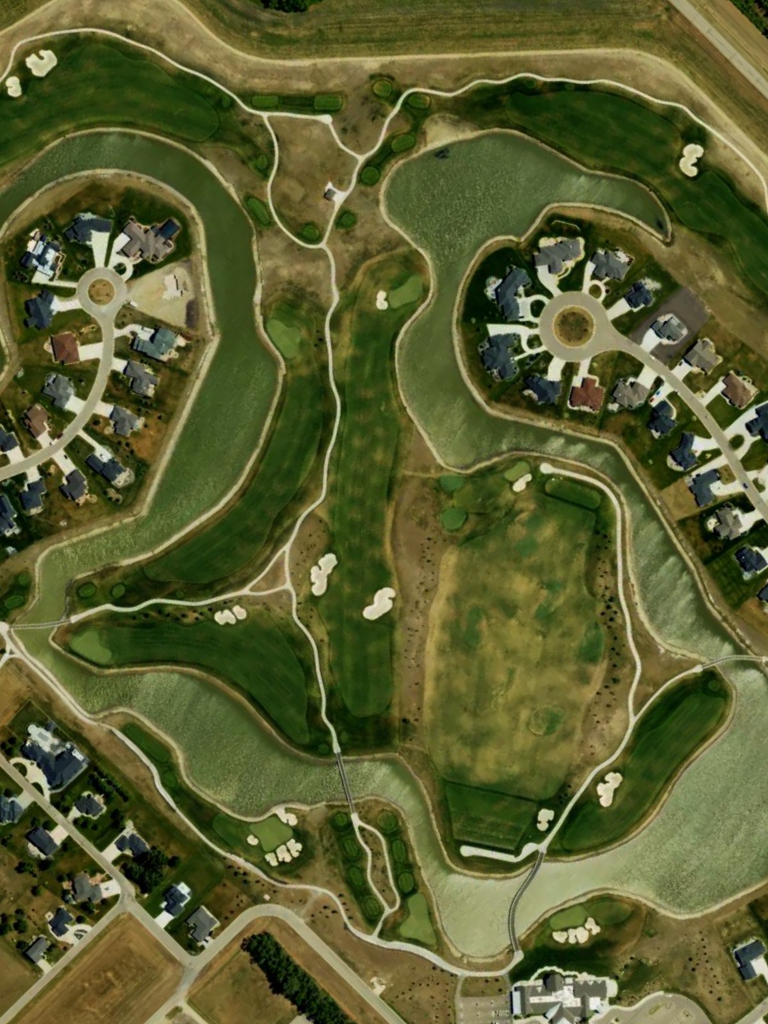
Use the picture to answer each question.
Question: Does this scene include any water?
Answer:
Yes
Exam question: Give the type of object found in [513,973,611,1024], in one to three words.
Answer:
building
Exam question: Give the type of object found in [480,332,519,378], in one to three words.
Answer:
house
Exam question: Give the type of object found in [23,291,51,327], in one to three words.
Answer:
house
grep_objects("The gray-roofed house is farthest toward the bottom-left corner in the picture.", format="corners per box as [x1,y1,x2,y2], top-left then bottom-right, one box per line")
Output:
[25,937,51,964]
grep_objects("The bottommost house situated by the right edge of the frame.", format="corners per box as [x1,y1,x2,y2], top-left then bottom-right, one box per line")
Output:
[734,938,767,981]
